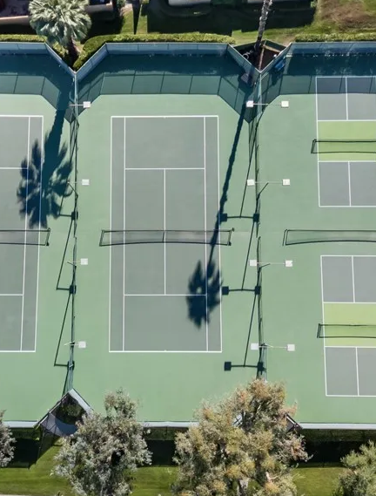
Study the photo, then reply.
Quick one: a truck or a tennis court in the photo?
tennis court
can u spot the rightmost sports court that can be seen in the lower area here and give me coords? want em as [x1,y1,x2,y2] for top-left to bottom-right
[322,256,376,396]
